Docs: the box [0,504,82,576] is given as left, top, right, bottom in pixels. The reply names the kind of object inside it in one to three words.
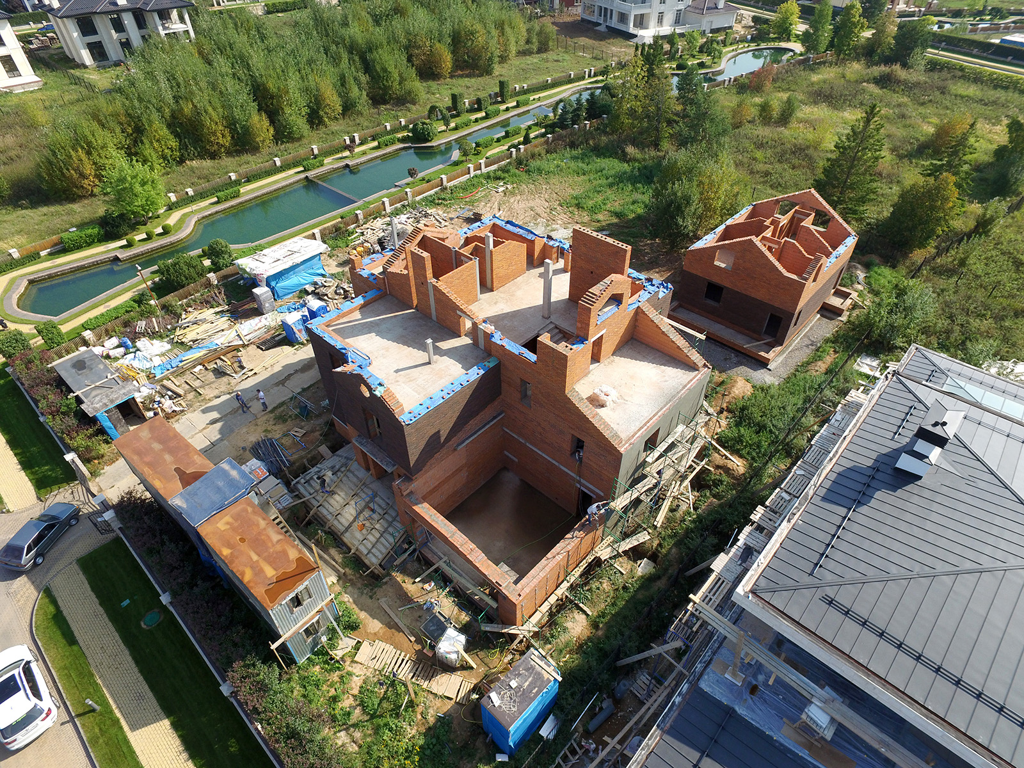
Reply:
car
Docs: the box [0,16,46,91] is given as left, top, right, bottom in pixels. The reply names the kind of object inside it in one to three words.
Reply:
house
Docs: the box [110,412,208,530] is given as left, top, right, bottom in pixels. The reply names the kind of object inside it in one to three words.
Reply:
shipping container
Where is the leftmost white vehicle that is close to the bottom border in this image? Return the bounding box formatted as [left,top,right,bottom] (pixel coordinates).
[0,639,61,750]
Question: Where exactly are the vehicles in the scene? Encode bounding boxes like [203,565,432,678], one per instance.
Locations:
[0,639,61,750]
[0,504,82,576]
